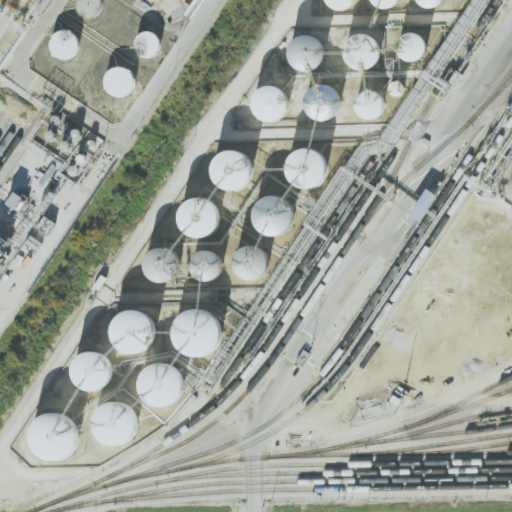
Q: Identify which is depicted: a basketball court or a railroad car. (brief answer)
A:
railroad car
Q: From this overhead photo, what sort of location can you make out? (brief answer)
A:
industrial area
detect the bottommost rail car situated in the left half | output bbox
[164,426,189,446]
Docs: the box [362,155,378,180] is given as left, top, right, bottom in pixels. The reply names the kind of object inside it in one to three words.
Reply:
rail car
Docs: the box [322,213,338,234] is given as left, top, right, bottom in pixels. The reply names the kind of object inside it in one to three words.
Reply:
rail car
